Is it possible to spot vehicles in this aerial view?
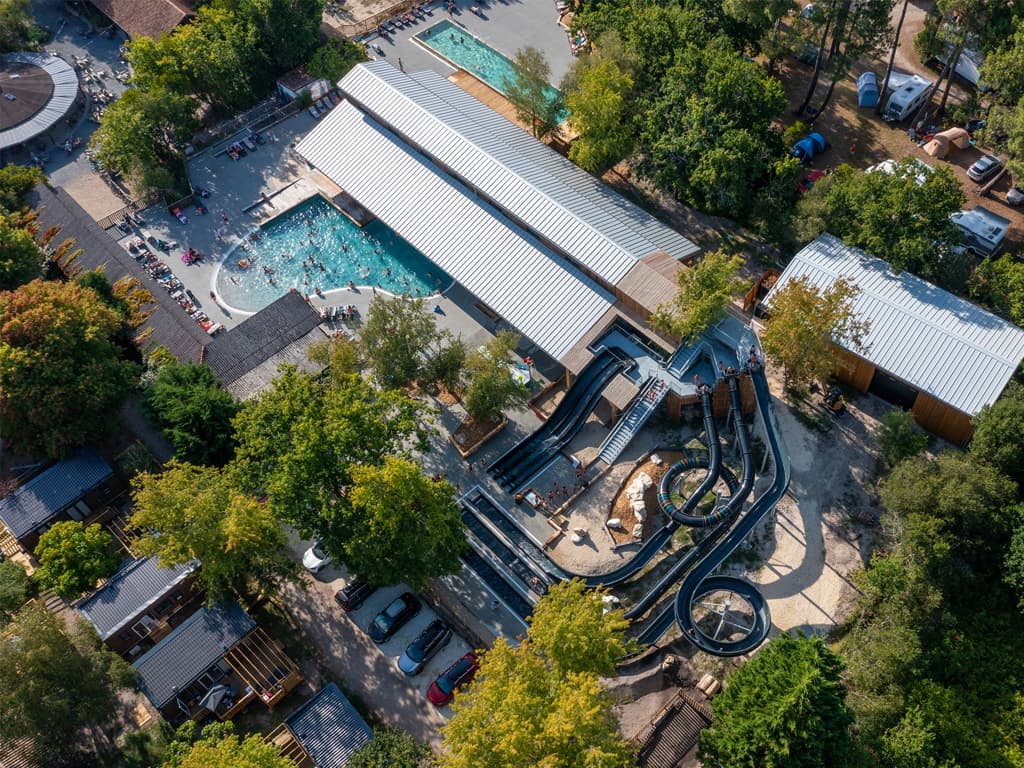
Yes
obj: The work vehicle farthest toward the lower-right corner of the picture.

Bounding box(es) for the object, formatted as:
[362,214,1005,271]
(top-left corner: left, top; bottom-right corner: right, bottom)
[821,387,866,412]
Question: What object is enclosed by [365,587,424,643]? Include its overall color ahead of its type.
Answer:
black car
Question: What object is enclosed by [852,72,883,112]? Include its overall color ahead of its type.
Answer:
blue tent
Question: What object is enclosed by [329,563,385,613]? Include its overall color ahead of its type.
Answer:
black car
